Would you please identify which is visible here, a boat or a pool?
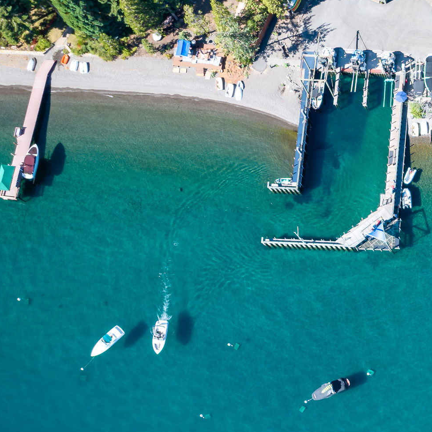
boat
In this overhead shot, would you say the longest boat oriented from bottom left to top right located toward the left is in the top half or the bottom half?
bottom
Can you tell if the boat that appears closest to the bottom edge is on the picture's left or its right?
right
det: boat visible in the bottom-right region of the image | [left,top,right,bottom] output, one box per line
[312,379,350,402]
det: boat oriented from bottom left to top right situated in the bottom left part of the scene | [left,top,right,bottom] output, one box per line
[90,325,125,356]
